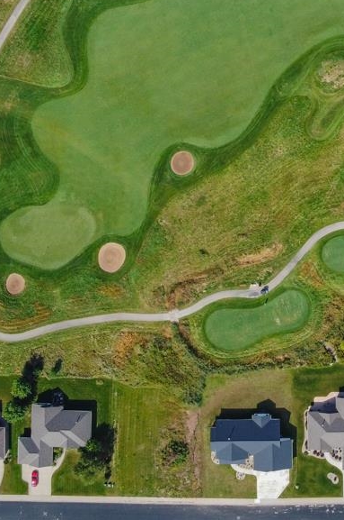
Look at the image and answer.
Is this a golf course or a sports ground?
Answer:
golf course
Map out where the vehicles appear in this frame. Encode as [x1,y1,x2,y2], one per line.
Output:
[261,286,270,294]
[248,284,259,289]
[30,469,38,486]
